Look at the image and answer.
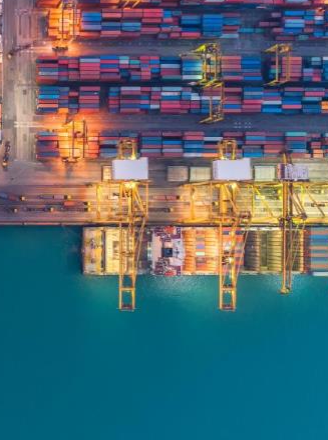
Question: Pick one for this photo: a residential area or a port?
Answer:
port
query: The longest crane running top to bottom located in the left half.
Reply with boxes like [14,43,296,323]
[81,135,148,316]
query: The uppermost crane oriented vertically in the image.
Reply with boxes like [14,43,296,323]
[51,2,77,50]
